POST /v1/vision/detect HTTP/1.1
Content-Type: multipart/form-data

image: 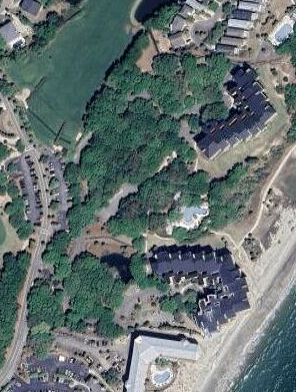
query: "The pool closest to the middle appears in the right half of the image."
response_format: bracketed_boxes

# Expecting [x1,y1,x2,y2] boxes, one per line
[167,203,210,235]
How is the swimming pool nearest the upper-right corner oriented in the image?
at an angle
